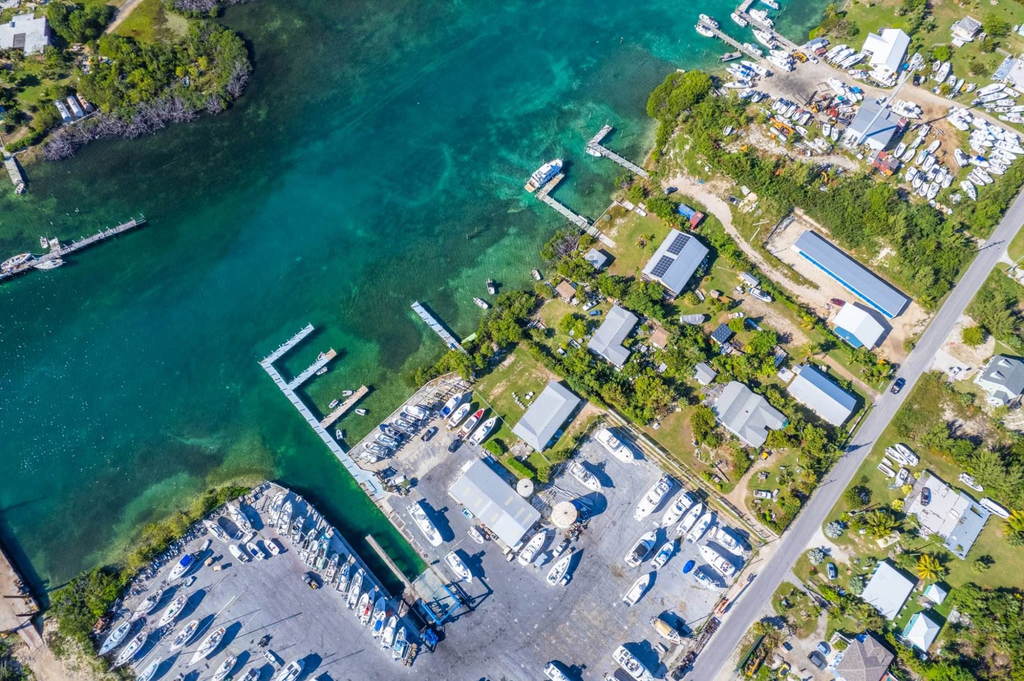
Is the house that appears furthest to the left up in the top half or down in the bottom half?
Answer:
top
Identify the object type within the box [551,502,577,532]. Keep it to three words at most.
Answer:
water tank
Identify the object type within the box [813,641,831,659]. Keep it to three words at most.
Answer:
car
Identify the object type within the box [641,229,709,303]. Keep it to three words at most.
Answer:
house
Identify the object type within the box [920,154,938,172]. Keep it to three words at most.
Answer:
boat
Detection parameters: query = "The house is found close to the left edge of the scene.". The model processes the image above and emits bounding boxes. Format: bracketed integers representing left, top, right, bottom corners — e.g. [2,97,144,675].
[0,13,54,64]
